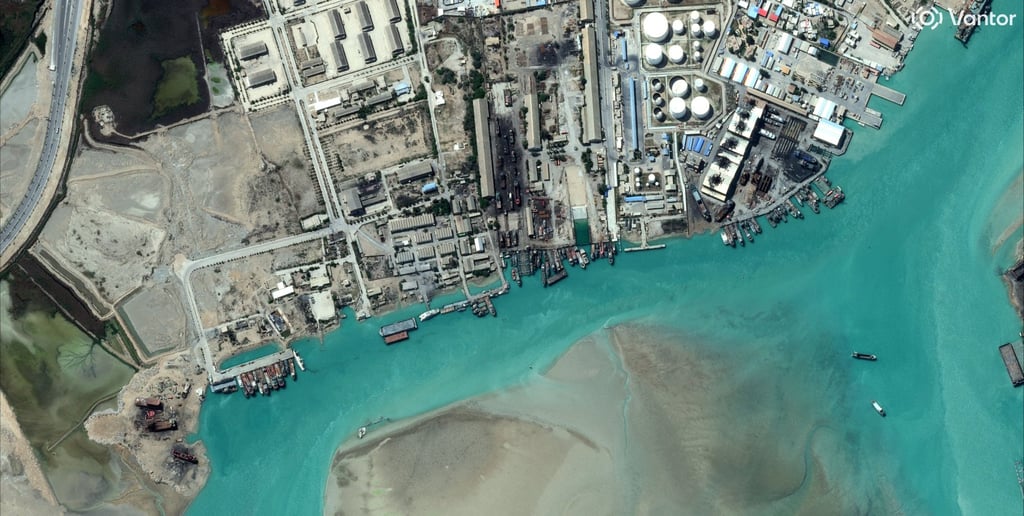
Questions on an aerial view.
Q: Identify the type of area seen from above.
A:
port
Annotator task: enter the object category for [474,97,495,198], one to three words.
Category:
shed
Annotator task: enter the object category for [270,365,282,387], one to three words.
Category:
boat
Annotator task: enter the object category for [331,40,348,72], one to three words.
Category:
building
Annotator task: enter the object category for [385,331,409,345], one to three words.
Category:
ship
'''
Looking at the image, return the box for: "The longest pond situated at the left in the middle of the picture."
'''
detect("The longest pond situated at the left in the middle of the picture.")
[17,258,103,335]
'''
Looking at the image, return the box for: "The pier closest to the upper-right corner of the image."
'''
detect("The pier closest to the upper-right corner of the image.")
[871,83,906,105]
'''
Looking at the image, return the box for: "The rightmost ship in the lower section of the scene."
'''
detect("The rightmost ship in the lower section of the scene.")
[1000,344,1024,384]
